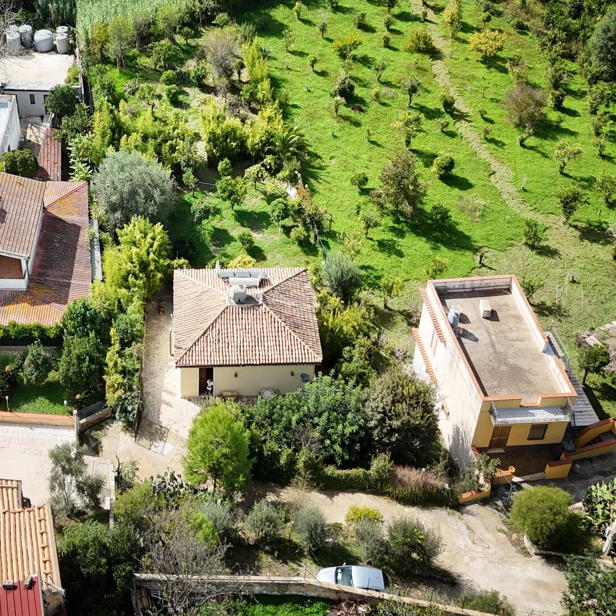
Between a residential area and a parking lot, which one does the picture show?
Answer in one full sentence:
This image shows a residential area.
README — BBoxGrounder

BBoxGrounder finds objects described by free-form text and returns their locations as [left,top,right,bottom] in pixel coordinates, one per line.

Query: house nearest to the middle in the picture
[172,266,324,390]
